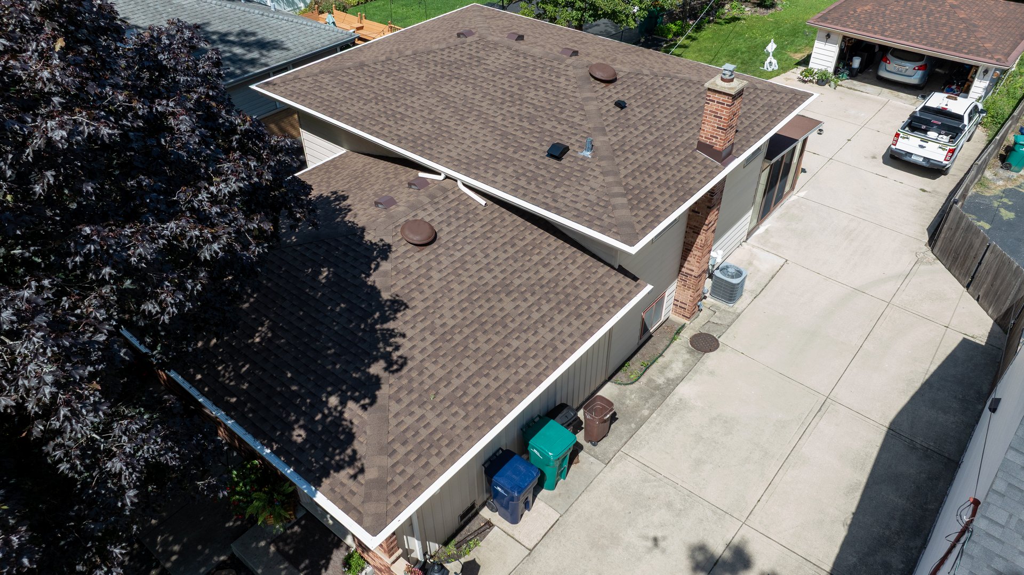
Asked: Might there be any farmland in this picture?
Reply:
No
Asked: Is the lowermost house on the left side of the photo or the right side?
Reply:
right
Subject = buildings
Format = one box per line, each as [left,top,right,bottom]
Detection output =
[101,4,827,575]
[914,343,1024,575]
[806,0,1024,111]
